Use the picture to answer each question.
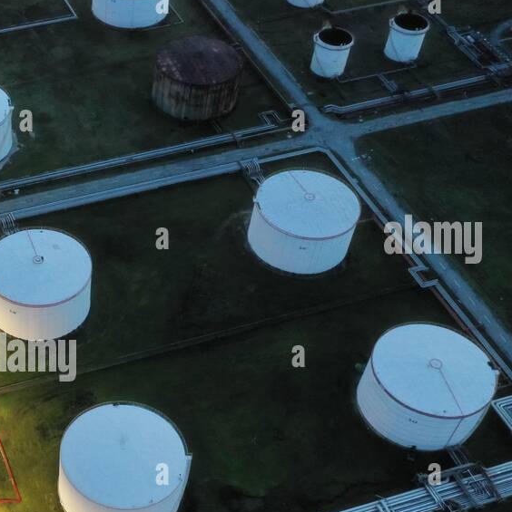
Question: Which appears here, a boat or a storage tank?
storage tank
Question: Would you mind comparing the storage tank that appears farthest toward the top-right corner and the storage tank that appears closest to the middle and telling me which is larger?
the storage tank that appears closest to the middle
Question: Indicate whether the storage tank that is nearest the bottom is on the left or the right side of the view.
left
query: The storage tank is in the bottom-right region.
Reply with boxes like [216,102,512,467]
[354,319,498,452]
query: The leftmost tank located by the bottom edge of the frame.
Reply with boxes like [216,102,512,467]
[55,398,196,512]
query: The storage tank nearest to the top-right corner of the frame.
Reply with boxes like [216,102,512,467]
[379,9,431,64]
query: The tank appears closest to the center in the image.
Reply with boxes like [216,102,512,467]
[246,166,362,276]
